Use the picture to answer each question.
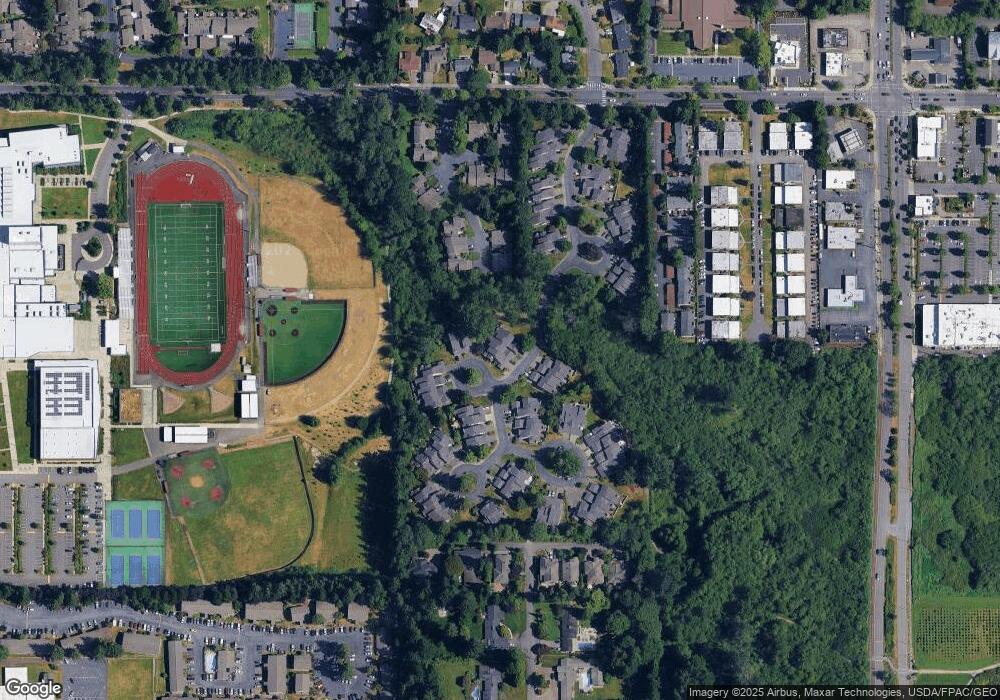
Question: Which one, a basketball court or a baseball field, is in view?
baseball field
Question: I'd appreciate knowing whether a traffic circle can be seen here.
Yes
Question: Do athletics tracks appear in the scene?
Yes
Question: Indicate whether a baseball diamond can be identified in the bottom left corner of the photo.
Yes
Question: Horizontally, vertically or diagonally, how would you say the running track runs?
vertically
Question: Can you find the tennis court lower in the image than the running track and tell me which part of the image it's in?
bottom left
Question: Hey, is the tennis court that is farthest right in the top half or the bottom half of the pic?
top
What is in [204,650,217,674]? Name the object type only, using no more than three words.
swimming pool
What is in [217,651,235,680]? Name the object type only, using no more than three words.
building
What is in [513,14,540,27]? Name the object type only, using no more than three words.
house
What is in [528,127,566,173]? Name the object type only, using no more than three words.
house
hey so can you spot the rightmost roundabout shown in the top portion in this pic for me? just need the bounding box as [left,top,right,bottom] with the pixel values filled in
[559,233,617,273]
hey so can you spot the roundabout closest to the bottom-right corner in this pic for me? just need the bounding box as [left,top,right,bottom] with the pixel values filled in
[536,439,590,487]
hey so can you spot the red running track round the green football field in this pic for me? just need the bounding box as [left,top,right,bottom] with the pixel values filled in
[136,161,245,386]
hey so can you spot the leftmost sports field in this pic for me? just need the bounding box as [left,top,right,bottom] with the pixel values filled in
[147,201,227,372]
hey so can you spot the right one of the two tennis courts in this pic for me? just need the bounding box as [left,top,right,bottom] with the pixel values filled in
[295,3,314,49]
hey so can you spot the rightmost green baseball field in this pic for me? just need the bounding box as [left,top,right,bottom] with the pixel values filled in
[264,300,347,386]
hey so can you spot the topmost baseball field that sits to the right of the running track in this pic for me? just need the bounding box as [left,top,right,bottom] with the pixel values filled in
[264,238,311,287]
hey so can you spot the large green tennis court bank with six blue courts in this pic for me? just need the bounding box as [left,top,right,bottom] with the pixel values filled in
[104,500,166,586]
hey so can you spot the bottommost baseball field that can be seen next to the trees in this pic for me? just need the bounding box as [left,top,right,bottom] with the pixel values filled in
[161,440,313,584]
